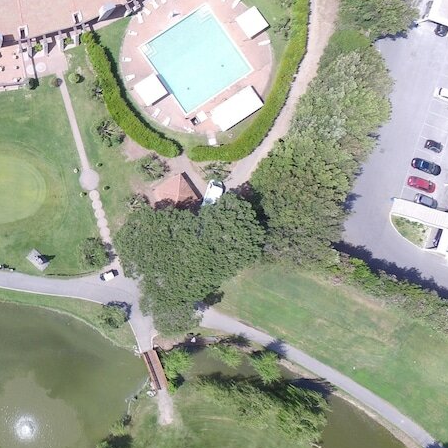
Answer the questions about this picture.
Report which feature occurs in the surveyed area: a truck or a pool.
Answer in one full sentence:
Looking from above, you can make out a pool.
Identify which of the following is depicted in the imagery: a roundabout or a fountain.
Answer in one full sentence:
I can see a fountain in this picture.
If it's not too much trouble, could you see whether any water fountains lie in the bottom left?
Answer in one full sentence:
Yes, a water fountain can be seen in the bottom left.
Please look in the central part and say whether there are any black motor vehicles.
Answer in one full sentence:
No, no black motor vehicle appears in the central part.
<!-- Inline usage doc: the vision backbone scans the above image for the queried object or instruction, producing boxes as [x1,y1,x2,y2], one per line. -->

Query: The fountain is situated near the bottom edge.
[8,416,37,440]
